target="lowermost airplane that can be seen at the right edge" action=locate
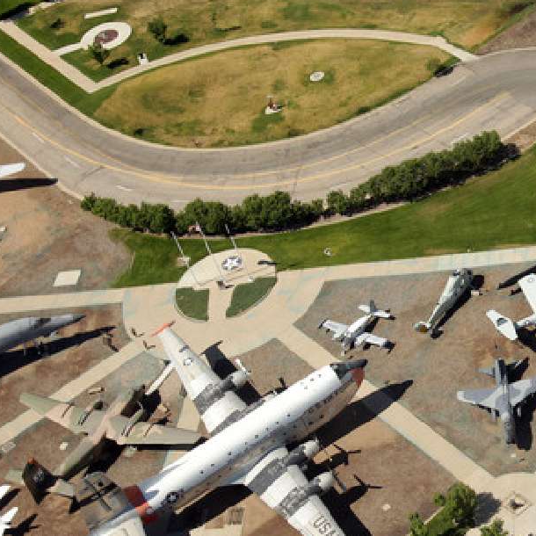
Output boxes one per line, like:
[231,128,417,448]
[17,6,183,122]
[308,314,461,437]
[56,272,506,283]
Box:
[458,350,536,447]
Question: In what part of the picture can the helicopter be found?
right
